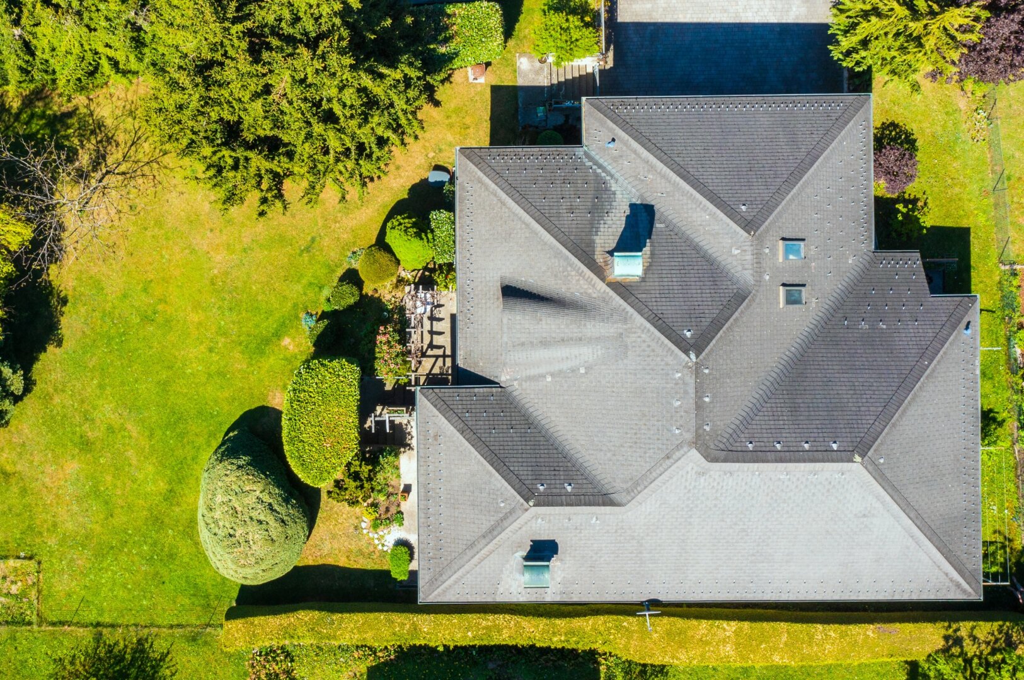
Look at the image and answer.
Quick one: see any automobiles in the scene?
No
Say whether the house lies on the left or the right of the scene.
right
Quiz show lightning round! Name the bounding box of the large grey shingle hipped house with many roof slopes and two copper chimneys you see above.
[412,91,985,607]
